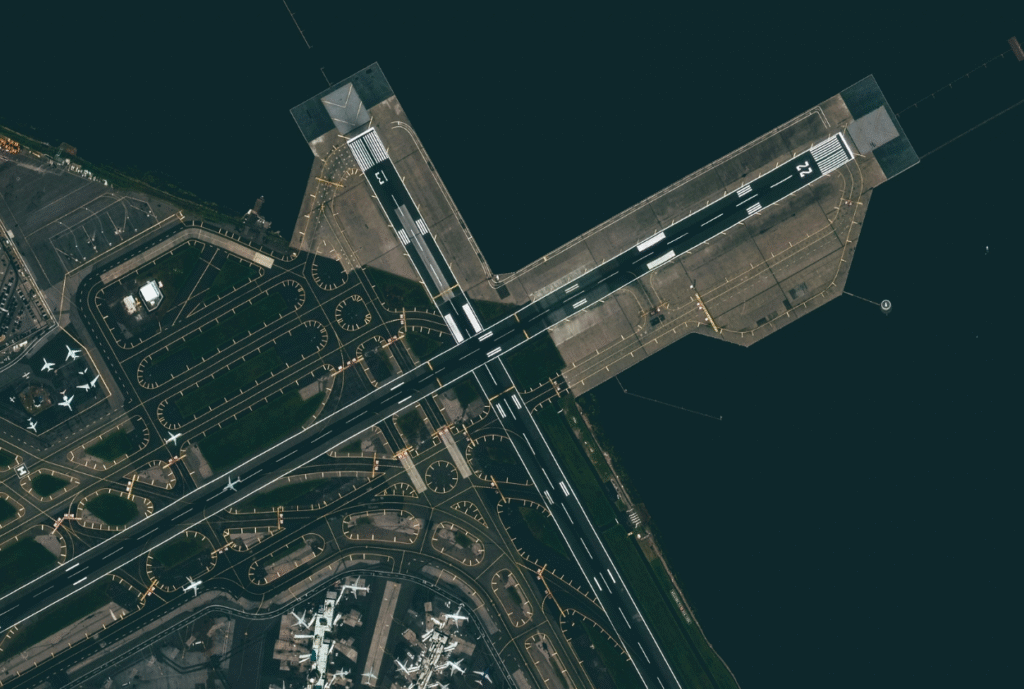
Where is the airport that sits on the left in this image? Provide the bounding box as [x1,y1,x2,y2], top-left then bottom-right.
[0,135,737,689]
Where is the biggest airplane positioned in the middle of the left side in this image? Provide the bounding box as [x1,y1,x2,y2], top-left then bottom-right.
[75,370,99,396]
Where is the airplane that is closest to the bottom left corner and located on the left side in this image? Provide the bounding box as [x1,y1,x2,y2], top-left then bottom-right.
[182,578,201,597]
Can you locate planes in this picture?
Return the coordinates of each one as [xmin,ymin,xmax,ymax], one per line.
[75,370,99,396]
[163,433,181,447]
[26,417,38,432]
[438,683,454,689]
[288,609,307,628]
[442,607,469,629]
[448,660,467,678]
[344,577,370,601]
[361,666,378,685]
[394,658,410,675]
[334,668,351,680]
[223,477,242,492]
[41,358,56,374]
[65,345,81,362]
[472,666,492,687]
[182,578,201,597]
[57,390,74,412]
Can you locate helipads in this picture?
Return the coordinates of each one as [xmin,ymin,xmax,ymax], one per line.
[13,463,30,479]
